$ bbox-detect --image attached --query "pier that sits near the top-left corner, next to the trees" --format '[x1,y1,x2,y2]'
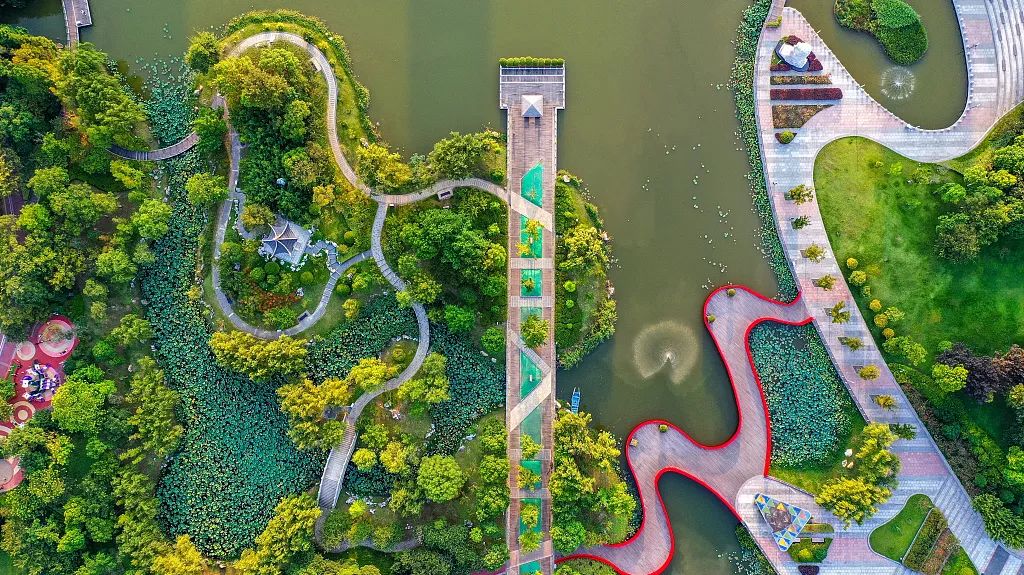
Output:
[61,0,93,47]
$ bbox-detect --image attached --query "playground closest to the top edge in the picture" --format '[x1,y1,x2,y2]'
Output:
[0,314,81,442]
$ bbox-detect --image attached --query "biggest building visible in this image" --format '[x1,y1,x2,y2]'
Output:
[256,215,311,265]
